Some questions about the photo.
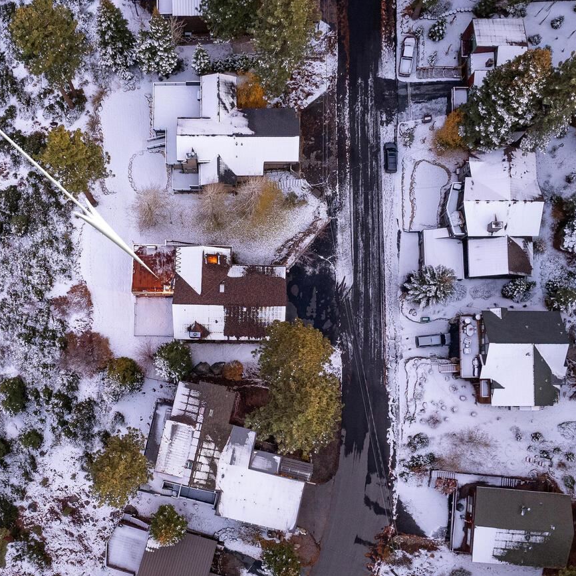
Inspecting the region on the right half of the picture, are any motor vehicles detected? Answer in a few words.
Yes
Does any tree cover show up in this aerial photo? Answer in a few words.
Yes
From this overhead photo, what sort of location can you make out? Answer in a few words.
residential area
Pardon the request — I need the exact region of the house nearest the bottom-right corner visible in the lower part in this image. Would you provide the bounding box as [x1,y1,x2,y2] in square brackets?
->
[430,471,574,569]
